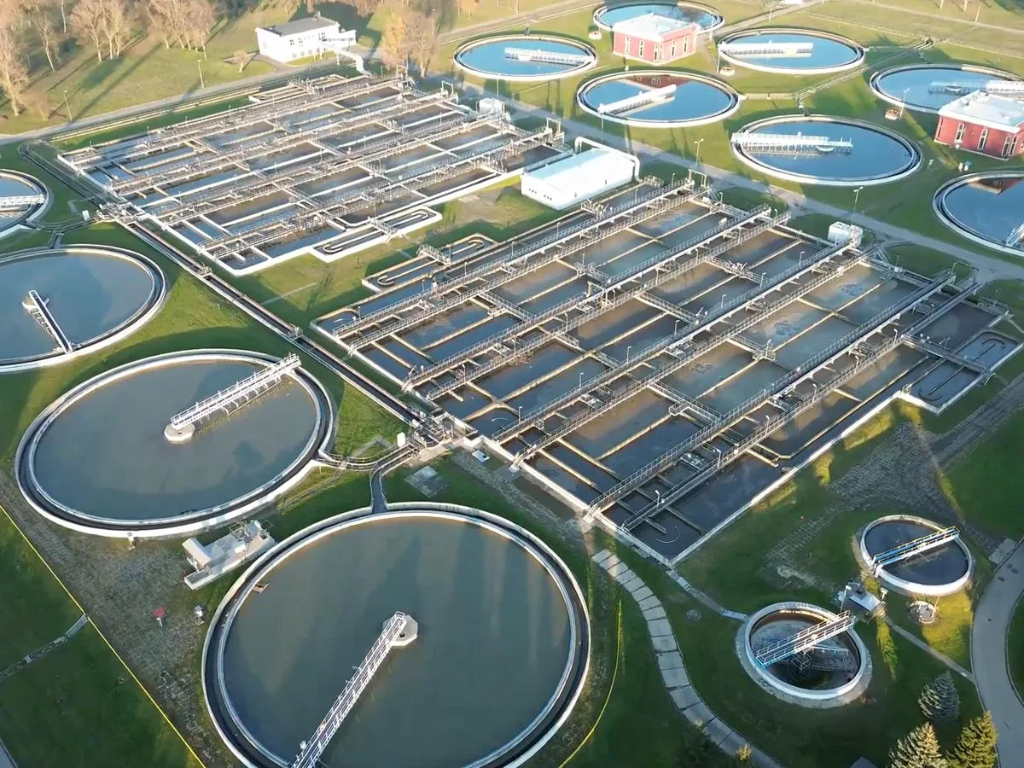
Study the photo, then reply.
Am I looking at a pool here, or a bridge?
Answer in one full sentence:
The one in the frame is a bridge.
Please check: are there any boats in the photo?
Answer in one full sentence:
No, no boat is visible in the scene.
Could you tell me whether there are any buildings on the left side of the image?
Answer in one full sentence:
Yes, the scene does show a building on the left side of the image.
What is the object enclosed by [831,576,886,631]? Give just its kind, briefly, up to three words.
building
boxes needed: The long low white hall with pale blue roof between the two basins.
[519,146,636,211]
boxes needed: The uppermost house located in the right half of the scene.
[610,14,701,65]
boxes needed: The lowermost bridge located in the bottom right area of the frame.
[750,607,861,676]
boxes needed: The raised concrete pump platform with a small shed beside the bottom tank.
[177,508,283,592]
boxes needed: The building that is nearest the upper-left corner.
[256,12,337,62]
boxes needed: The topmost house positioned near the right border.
[934,88,1024,161]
